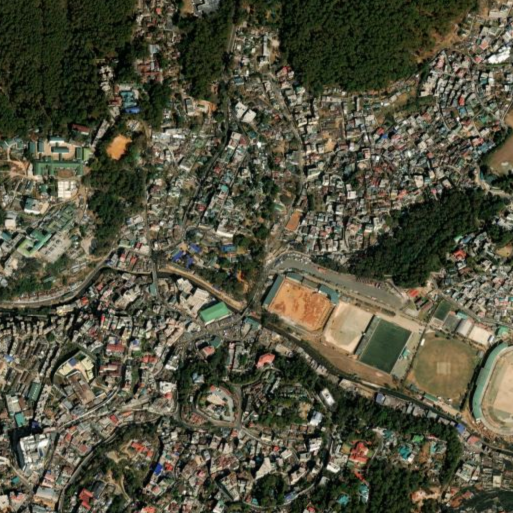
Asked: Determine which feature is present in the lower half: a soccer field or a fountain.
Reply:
soccer field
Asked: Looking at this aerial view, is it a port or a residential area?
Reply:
residential area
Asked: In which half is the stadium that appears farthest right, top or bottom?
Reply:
bottom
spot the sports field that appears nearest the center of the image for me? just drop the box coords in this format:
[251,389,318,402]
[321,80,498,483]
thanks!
[268,278,333,330]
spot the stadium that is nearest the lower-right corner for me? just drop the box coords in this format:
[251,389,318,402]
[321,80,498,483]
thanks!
[458,324,513,438]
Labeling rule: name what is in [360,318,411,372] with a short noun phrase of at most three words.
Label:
soccer field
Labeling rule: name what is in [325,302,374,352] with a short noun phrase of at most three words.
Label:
sports field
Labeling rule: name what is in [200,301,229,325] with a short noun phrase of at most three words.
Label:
building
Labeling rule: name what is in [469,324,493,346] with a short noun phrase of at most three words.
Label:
building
